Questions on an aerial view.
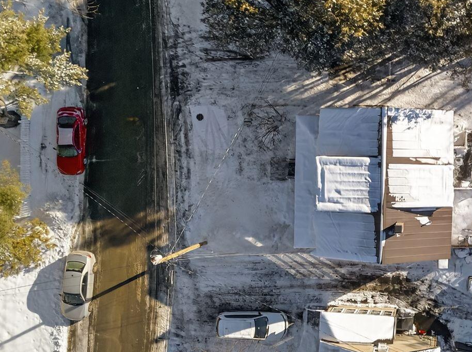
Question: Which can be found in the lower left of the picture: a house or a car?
car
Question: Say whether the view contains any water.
No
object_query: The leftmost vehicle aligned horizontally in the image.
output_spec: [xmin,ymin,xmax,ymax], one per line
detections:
[218,308,289,341]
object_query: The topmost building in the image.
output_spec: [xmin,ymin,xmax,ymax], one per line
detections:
[288,106,454,267]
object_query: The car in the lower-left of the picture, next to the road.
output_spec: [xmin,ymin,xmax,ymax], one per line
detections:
[59,252,95,319]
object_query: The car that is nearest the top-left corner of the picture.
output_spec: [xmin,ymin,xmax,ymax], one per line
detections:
[52,107,87,172]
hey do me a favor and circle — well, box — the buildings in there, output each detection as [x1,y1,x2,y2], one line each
[288,106,454,267]
[319,306,441,352]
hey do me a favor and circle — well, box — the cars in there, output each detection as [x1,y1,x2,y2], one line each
[52,107,87,172]
[218,308,289,341]
[59,252,95,319]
